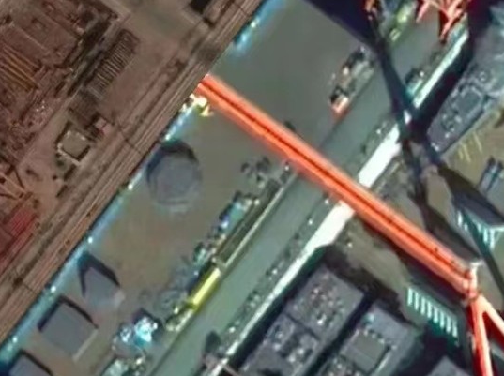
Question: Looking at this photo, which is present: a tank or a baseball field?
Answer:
tank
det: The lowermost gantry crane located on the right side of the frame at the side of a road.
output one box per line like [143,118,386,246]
[197,73,504,376]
